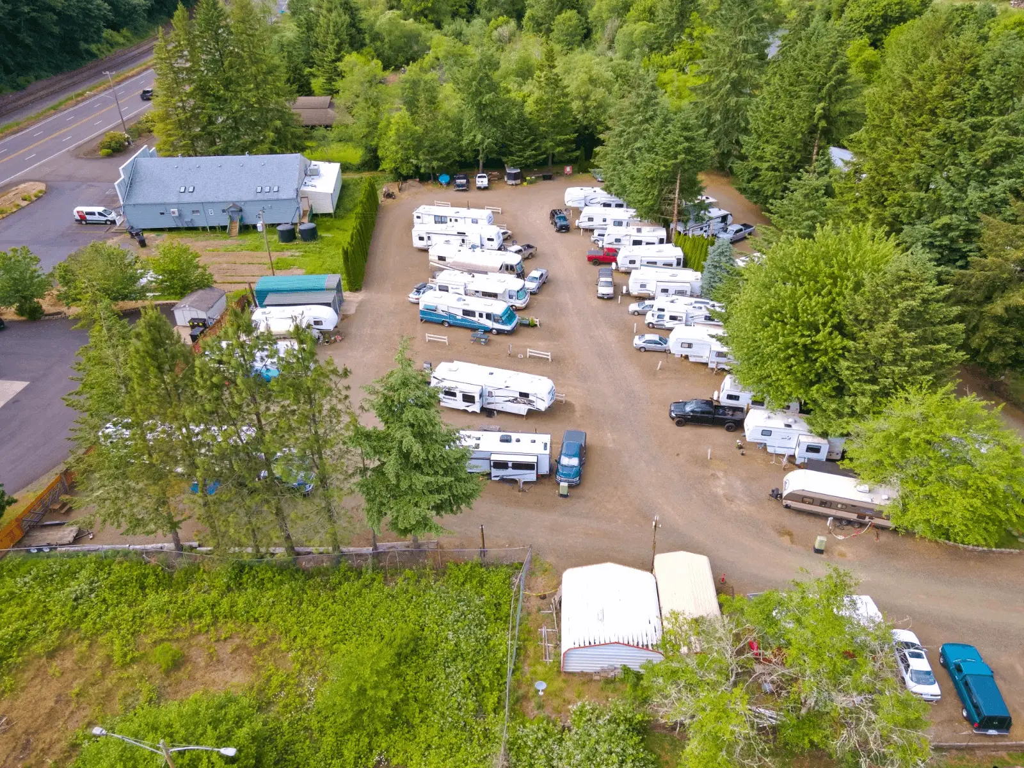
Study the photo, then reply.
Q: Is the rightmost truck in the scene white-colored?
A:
No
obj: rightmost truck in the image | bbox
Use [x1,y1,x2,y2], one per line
[940,645,1018,737]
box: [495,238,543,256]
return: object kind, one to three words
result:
vehicle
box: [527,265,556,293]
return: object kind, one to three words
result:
truck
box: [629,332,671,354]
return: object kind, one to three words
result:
car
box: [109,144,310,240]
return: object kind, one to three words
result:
building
